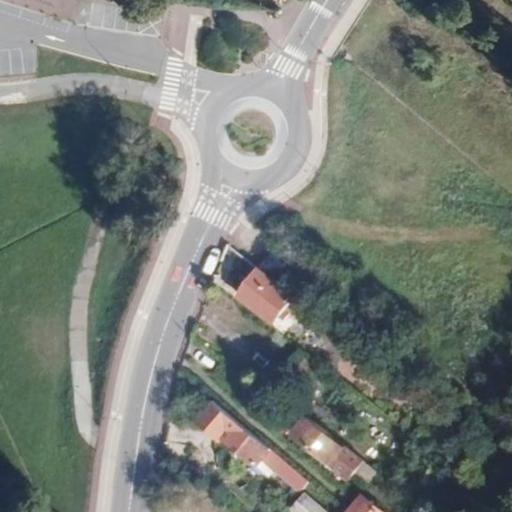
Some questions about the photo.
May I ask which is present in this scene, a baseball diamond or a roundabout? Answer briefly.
roundabout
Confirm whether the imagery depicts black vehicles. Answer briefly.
No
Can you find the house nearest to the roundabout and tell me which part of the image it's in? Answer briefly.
center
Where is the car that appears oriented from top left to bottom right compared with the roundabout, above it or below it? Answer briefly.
below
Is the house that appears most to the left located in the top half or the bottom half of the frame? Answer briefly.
bottom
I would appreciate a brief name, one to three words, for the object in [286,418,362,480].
house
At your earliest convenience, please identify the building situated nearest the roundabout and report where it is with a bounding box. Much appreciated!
[235,267,288,326]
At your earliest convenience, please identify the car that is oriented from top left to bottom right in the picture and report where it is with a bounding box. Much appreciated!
[194,350,216,370]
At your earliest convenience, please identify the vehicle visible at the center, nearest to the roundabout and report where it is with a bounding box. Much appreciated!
[202,249,220,274]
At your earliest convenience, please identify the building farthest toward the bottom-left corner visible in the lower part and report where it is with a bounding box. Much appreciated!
[195,402,246,444]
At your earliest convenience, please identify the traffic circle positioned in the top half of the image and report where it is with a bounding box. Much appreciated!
[202,80,306,184]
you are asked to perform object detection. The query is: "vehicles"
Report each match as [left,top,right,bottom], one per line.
[194,350,216,370]
[202,249,220,274]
